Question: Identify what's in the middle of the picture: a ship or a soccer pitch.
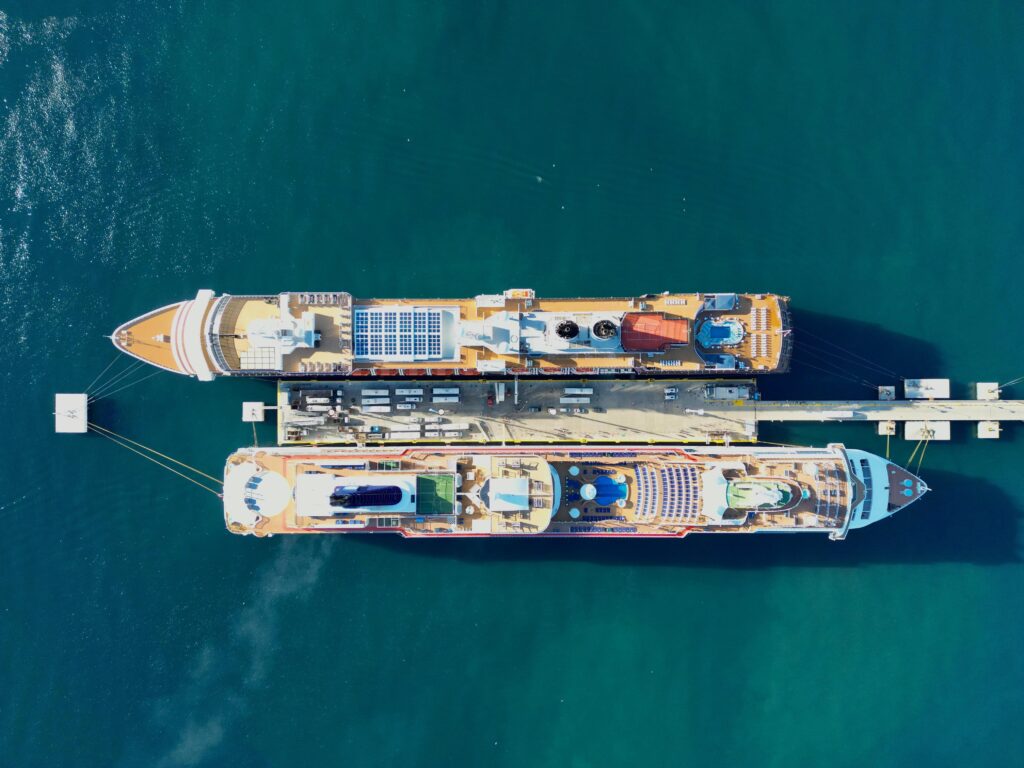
ship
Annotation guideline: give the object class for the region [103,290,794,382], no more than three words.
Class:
ship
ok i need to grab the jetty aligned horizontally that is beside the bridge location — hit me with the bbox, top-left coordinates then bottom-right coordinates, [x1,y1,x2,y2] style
[277,378,759,445]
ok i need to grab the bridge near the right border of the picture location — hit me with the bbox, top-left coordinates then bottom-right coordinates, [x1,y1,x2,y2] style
[757,400,1024,423]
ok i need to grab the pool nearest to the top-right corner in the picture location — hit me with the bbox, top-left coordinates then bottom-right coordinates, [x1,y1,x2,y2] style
[697,319,745,348]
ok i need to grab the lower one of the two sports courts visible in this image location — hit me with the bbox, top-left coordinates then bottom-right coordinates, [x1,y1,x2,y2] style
[416,473,455,515]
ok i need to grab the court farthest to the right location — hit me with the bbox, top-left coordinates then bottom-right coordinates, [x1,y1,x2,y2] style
[622,312,689,352]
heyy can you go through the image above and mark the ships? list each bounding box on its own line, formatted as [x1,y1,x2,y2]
[219,442,933,540]
[103,290,794,382]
